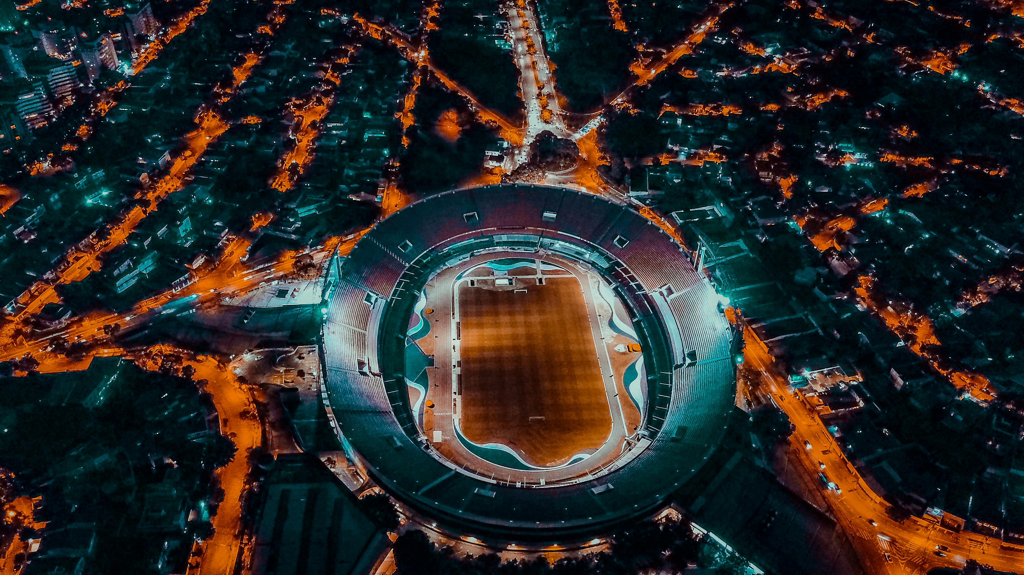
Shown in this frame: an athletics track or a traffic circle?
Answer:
athletics track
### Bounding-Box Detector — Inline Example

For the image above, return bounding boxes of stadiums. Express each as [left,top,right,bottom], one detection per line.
[322,182,739,556]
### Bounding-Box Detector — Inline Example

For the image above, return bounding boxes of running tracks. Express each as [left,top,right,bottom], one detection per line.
[434,254,624,474]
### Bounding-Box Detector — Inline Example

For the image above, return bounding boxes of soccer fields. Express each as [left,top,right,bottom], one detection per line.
[451,260,612,467]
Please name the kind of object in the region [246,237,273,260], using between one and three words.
house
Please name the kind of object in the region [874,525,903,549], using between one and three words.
bus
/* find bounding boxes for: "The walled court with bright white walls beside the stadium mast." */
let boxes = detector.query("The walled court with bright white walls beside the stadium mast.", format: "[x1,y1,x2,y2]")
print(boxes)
[672,201,725,223]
